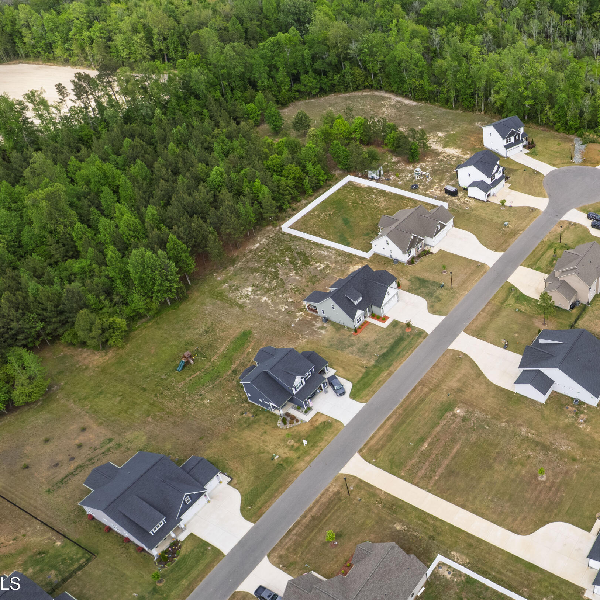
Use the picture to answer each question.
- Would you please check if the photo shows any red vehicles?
No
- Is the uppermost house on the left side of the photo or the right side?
right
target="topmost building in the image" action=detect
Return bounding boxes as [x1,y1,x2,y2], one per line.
[481,115,531,159]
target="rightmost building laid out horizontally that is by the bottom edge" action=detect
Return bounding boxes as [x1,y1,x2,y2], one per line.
[282,539,431,600]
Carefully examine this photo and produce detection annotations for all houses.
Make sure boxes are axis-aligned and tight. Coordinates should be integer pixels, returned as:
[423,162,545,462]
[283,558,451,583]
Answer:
[239,346,329,416]
[304,265,400,329]
[544,241,600,310]
[514,328,600,408]
[450,150,511,202]
[0,571,78,600]
[481,115,531,159]
[282,539,431,600]
[371,204,455,264]
[78,451,224,557]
